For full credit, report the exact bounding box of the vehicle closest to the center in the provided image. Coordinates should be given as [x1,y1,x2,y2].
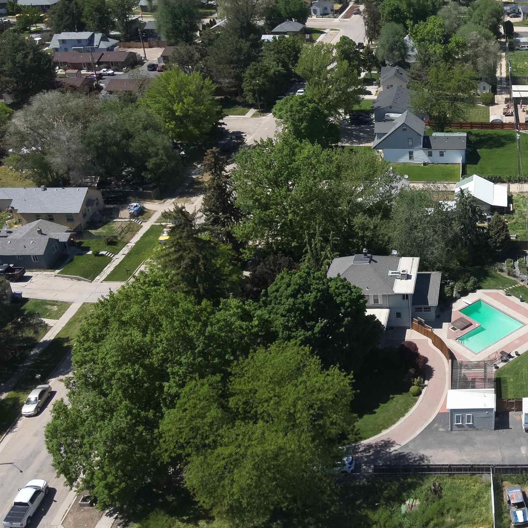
[157,222,175,242]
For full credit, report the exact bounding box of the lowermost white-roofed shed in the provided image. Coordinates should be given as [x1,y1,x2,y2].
[447,383,495,426]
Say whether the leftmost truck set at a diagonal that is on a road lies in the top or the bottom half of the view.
bottom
